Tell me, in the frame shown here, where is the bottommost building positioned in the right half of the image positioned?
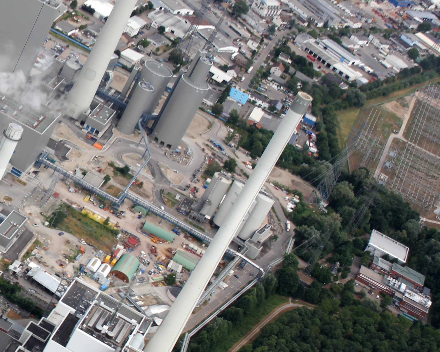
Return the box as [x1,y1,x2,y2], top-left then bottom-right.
[395,285,437,315]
